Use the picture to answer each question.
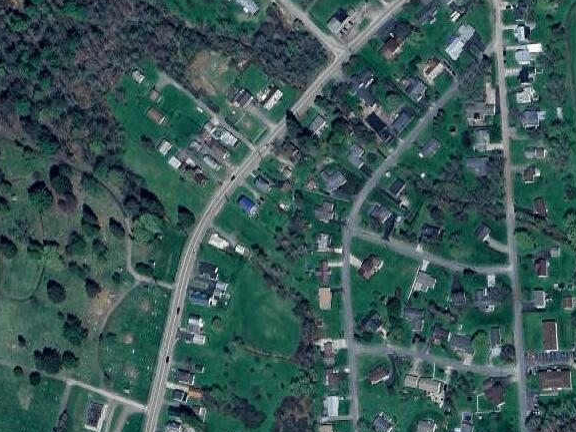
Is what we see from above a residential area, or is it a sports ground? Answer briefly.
residential area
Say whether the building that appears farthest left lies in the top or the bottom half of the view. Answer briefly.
bottom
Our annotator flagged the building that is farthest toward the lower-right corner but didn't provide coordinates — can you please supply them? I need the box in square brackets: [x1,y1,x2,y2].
[538,369,572,394]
